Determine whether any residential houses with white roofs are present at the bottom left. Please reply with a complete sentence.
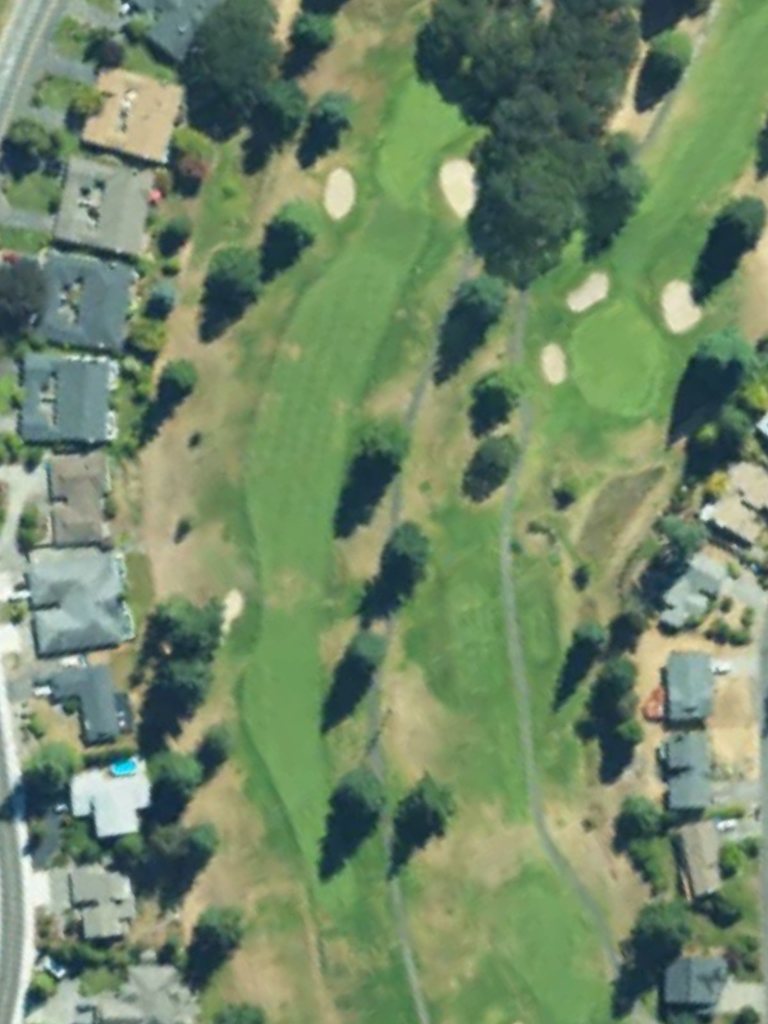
Yes, a residential house with a white roof appears at the bottom left.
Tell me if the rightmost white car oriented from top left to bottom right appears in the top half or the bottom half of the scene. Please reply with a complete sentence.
The bottom half of the photo is where the rightmost white car oriented from top left to bottom right is.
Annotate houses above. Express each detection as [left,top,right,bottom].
[67,867,136,942]
[700,462,768,546]
[52,156,152,254]
[660,731,712,810]
[667,653,713,720]
[34,256,140,348]
[659,551,732,629]
[755,406,768,438]
[70,773,152,839]
[47,663,134,744]
[22,353,118,442]
[666,958,729,1005]
[27,546,135,658]
[128,0,210,62]
[90,965,201,1024]
[49,454,110,545]
[79,65,185,161]
[682,824,724,897]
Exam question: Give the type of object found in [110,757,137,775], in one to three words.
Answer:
swimming pool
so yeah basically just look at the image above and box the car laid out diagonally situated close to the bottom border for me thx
[43,958,65,978]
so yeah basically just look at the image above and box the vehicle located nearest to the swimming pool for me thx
[51,802,71,815]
